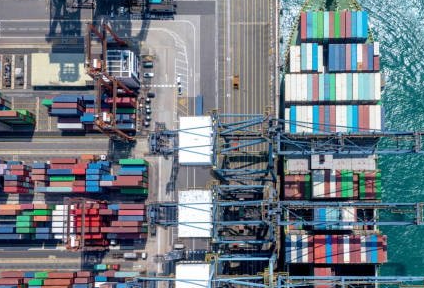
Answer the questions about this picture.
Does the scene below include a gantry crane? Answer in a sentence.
Yes, the picture does show a gantry crane.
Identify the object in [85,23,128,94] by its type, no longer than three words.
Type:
crane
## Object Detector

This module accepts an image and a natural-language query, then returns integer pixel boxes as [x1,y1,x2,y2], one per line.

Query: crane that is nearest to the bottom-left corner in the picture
[62,195,108,253]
